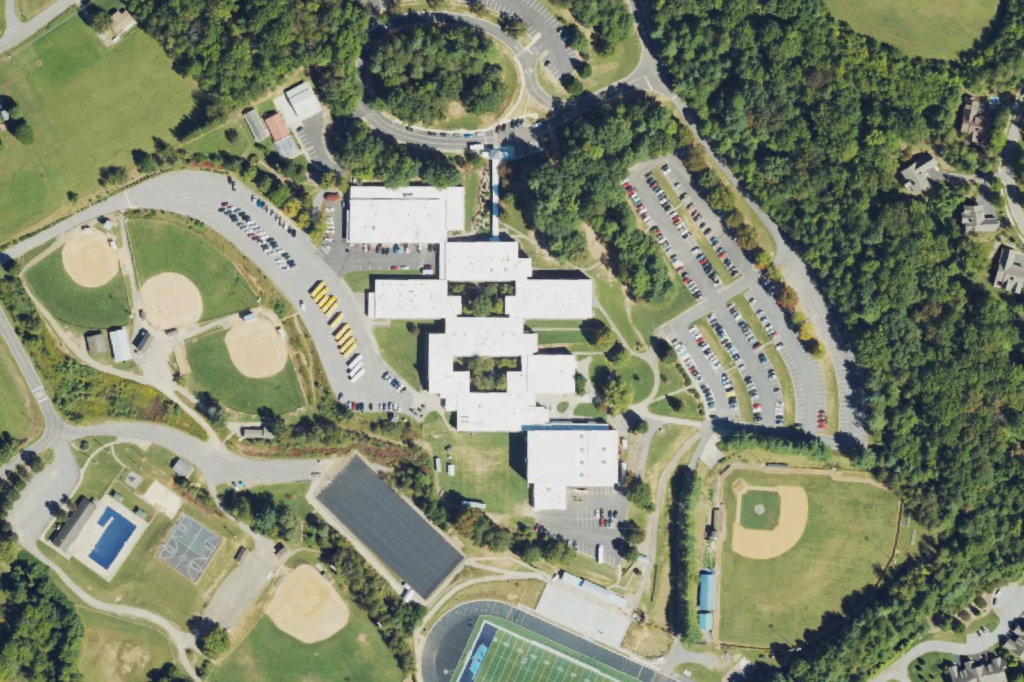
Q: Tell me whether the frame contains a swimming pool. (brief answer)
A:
Yes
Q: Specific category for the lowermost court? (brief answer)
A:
basketball court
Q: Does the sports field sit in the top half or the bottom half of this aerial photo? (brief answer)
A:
bottom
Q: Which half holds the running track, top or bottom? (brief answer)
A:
bottom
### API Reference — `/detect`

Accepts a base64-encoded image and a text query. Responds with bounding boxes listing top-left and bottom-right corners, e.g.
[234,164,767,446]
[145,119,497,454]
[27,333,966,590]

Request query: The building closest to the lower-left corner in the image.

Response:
[51,498,97,553]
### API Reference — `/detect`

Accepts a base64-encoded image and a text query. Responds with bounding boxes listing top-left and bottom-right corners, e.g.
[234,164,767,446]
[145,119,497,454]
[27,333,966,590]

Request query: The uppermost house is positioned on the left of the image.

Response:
[110,8,139,41]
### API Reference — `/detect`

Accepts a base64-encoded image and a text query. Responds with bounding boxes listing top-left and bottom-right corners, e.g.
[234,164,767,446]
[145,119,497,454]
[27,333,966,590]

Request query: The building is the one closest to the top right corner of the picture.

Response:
[961,98,986,142]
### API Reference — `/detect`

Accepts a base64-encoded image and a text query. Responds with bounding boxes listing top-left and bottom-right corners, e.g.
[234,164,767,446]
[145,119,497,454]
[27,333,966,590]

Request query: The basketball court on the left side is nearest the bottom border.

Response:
[156,512,222,582]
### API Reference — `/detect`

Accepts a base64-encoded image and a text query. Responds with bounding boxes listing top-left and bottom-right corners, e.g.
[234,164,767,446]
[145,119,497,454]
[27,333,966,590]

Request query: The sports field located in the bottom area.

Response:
[449,615,636,682]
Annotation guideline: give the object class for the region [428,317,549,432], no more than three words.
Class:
building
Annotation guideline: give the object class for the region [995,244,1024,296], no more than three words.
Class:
house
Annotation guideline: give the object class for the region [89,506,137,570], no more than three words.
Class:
swimming pool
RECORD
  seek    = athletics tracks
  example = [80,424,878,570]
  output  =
[422,599,656,682]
